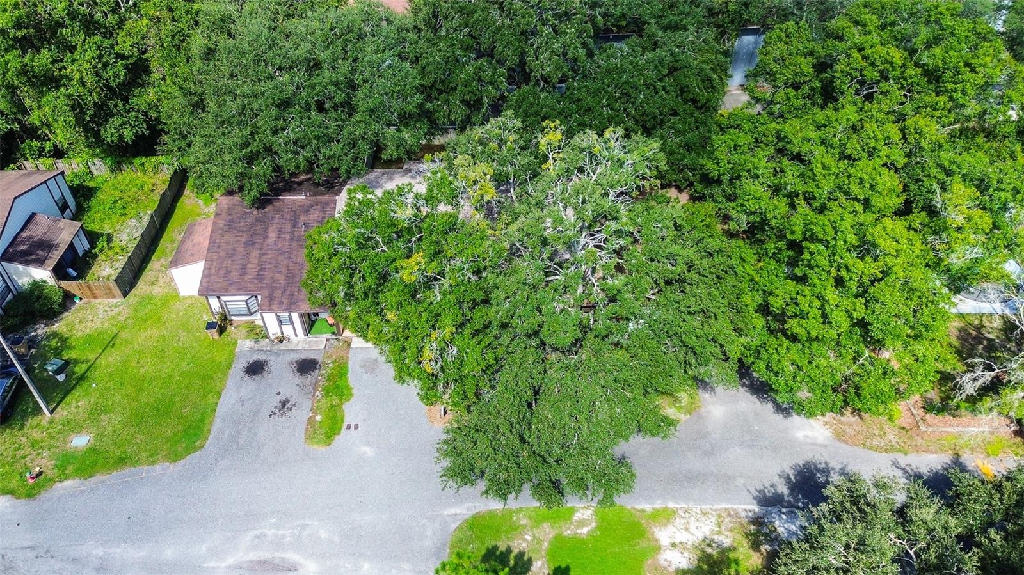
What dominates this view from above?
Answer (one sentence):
The scene is dominated by trees.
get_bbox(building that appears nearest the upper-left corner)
[0,170,95,295]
